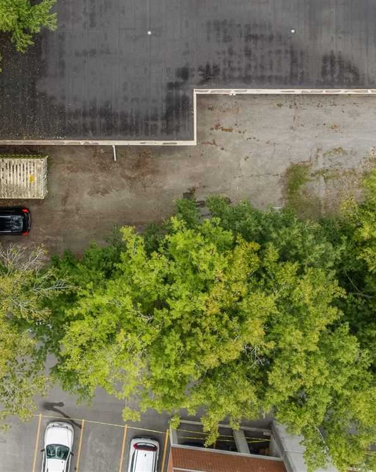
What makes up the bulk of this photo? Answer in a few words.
trees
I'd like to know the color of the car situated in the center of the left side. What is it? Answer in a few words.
black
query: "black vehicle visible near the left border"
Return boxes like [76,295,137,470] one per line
[0,201,33,233]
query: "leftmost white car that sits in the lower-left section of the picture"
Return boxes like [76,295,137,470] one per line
[39,419,74,472]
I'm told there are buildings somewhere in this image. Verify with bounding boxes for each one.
[163,426,317,472]
[0,0,376,145]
